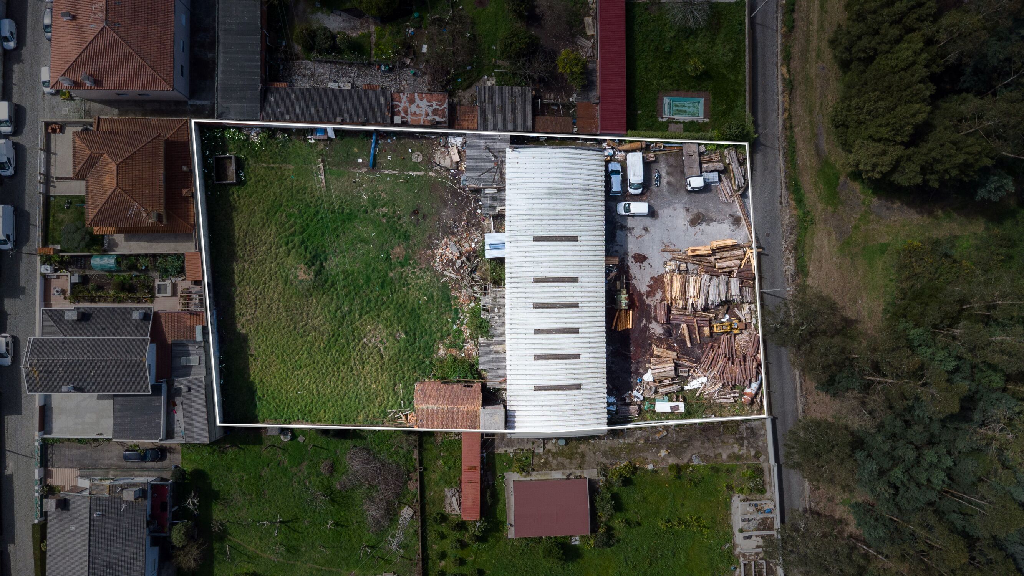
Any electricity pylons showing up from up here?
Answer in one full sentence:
Yes, an electricity pylon appears in the view.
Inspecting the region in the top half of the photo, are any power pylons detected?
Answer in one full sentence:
No, there's no power pylon to be seen in the top half of the photo.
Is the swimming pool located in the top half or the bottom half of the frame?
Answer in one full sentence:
It is in the top half that the swimming pool appears.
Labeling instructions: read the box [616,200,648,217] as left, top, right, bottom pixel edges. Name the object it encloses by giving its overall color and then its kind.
white vehicle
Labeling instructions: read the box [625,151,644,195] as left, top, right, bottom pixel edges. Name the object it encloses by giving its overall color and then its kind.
white vehicle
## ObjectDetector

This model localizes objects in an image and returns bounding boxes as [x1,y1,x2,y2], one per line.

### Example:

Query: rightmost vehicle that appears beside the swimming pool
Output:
[682,139,706,193]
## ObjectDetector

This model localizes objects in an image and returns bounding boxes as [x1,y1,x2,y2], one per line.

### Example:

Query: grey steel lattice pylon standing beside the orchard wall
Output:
[375,501,417,557]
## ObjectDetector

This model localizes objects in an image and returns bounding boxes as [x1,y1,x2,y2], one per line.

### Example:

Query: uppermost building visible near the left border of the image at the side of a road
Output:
[49,0,191,99]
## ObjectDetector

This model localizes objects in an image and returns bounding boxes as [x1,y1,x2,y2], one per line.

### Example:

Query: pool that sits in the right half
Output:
[662,96,704,119]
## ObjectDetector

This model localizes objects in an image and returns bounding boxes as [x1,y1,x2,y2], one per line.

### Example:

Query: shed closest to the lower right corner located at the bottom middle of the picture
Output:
[513,475,590,538]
